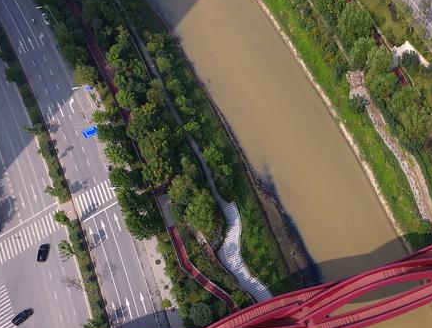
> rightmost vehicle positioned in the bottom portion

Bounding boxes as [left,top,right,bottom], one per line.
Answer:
[38,244,50,262]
